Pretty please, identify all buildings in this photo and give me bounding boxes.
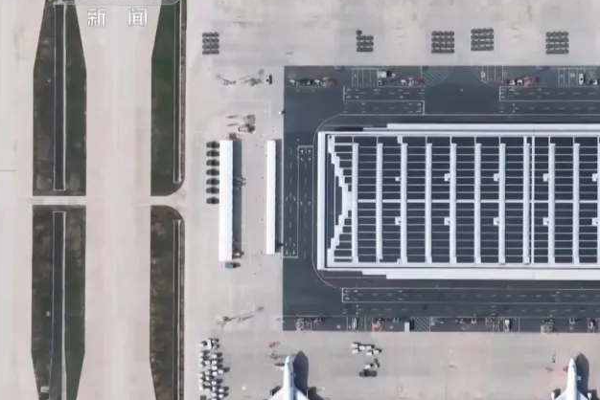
[318,124,600,280]
[219,139,236,261]
[266,140,278,255]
